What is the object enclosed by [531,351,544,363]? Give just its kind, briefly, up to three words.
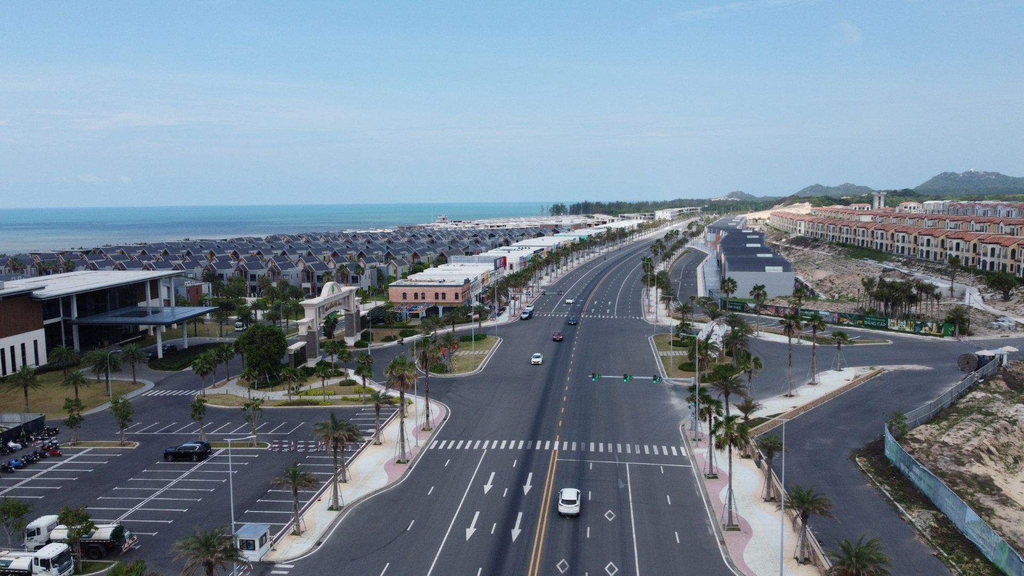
vehicle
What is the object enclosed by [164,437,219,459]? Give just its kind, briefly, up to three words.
car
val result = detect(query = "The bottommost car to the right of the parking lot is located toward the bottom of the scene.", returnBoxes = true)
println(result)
[558,485,583,512]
